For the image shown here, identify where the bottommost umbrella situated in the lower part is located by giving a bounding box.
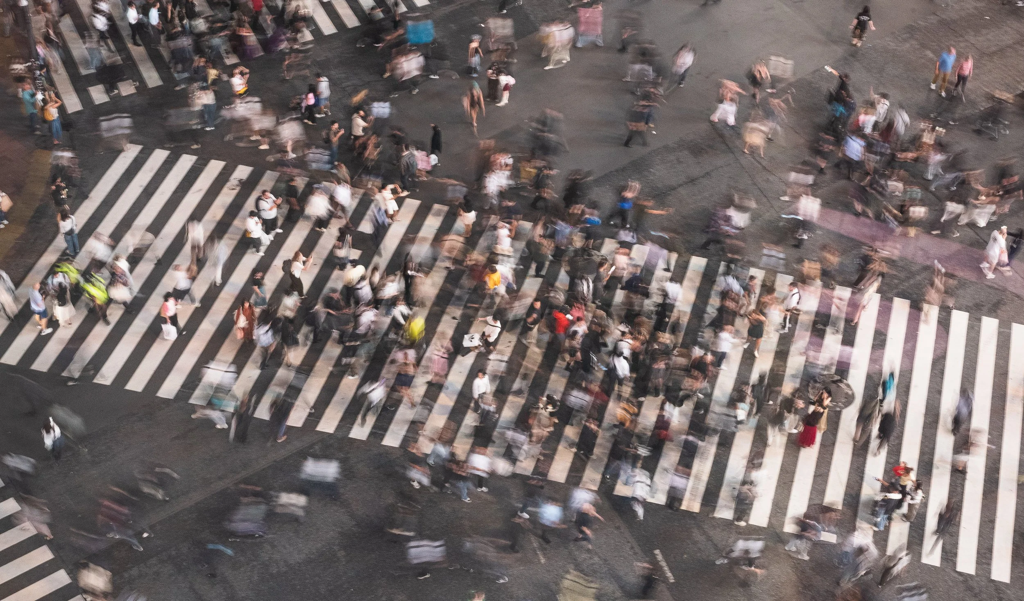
[806,381,854,421]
